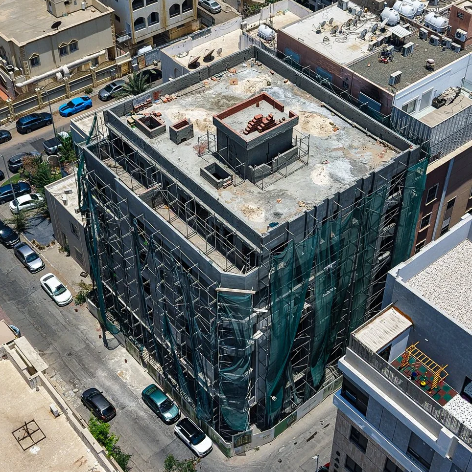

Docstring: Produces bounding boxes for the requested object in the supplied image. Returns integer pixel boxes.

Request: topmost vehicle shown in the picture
[198,0,223,14]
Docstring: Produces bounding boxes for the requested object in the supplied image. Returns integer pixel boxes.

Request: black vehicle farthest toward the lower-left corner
[78,387,121,423]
